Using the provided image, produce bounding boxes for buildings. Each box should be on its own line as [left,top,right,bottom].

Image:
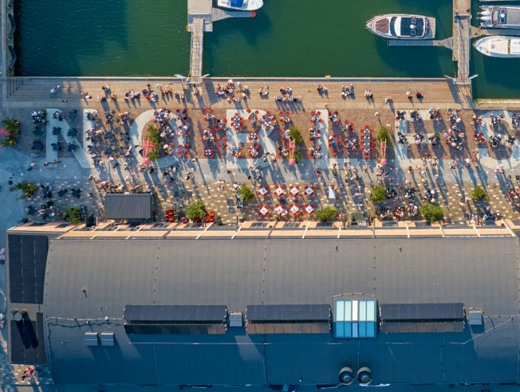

[6,213,520,384]
[106,192,157,218]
